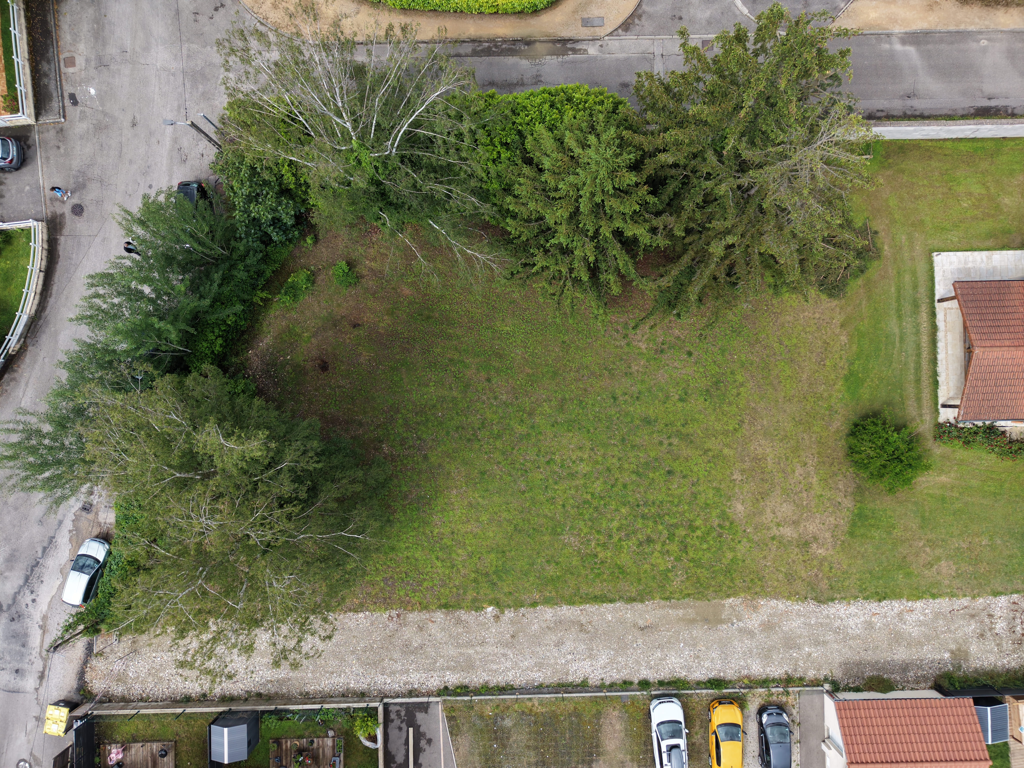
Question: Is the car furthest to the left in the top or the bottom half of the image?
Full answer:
It is in the top half that the car furthest to the left appears.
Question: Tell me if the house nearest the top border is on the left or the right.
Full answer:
You can find the house nearest the top border on the right side of the picture.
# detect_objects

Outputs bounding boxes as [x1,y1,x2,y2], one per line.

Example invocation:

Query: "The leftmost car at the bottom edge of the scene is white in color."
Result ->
[648,695,689,768]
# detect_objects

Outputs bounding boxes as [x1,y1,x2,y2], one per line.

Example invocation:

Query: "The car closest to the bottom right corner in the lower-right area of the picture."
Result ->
[755,702,795,768]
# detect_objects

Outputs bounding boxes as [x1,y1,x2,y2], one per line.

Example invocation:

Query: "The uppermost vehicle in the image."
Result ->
[0,137,31,174]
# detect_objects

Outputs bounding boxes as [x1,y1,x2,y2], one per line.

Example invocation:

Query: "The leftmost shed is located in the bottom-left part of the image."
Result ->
[211,710,259,762]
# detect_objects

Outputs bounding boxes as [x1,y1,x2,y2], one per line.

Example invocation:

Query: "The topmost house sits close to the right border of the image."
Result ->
[939,278,1024,422]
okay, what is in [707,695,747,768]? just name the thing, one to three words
car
